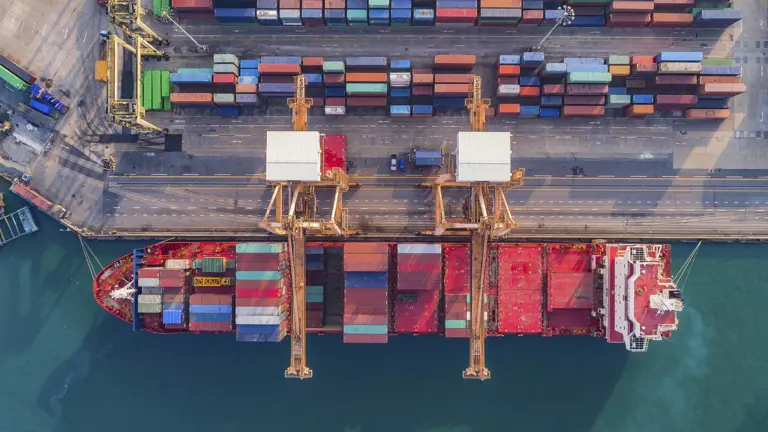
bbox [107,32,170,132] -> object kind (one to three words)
container crane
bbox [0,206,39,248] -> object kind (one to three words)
pier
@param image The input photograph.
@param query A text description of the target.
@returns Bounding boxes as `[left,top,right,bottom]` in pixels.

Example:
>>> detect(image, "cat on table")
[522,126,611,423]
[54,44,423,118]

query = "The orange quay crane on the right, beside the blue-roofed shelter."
[415,74,528,380]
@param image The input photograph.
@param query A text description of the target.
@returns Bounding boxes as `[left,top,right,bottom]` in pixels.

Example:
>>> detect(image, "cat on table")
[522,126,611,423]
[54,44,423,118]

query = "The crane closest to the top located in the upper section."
[108,0,170,44]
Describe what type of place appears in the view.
port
